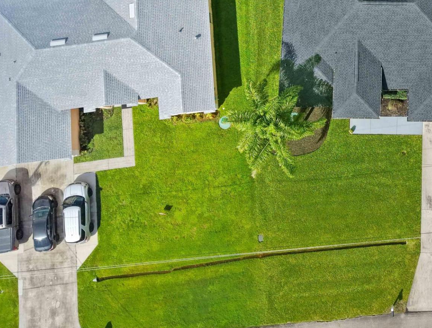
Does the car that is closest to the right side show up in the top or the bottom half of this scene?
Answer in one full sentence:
The car that is closest to the right side is in the bottom half of the image.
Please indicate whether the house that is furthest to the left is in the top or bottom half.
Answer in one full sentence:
The house that is furthest to the left is in the top half of the image.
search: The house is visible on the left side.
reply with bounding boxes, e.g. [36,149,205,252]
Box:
[0,0,220,171]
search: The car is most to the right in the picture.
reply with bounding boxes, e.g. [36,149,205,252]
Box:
[59,183,93,244]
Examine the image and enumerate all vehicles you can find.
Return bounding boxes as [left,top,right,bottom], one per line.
[29,195,61,253]
[59,183,93,244]
[0,180,20,254]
